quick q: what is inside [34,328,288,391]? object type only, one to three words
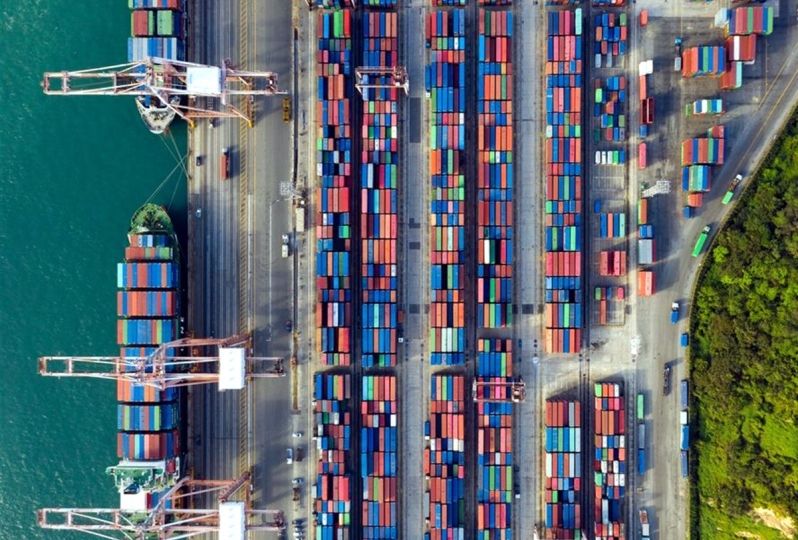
container crane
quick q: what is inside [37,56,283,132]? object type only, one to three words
container crane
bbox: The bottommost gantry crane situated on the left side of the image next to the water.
[32,462,288,540]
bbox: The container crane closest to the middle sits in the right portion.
[465,372,525,403]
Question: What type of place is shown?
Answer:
port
